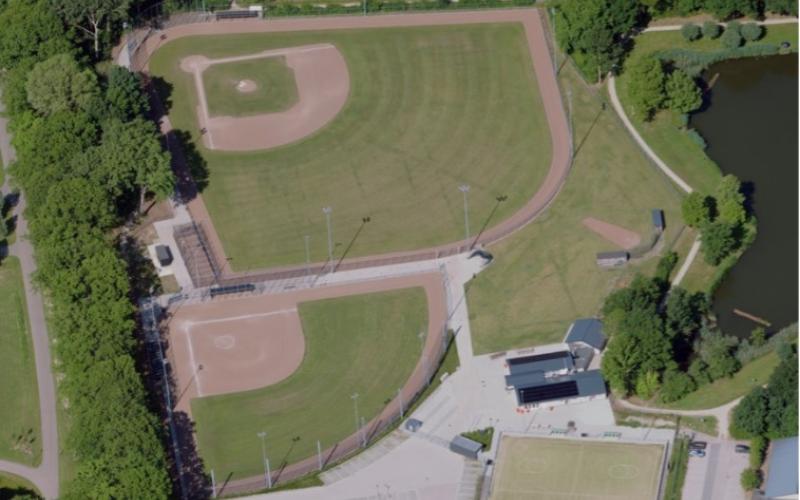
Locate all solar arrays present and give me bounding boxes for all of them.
[508,350,569,364]
[520,380,580,402]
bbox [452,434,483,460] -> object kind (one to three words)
shed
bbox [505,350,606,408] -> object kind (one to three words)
building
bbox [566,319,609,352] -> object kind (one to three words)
shed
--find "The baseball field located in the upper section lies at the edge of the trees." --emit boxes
[131,9,572,286]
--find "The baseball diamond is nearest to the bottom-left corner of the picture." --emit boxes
[160,272,447,500]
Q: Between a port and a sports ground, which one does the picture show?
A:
sports ground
